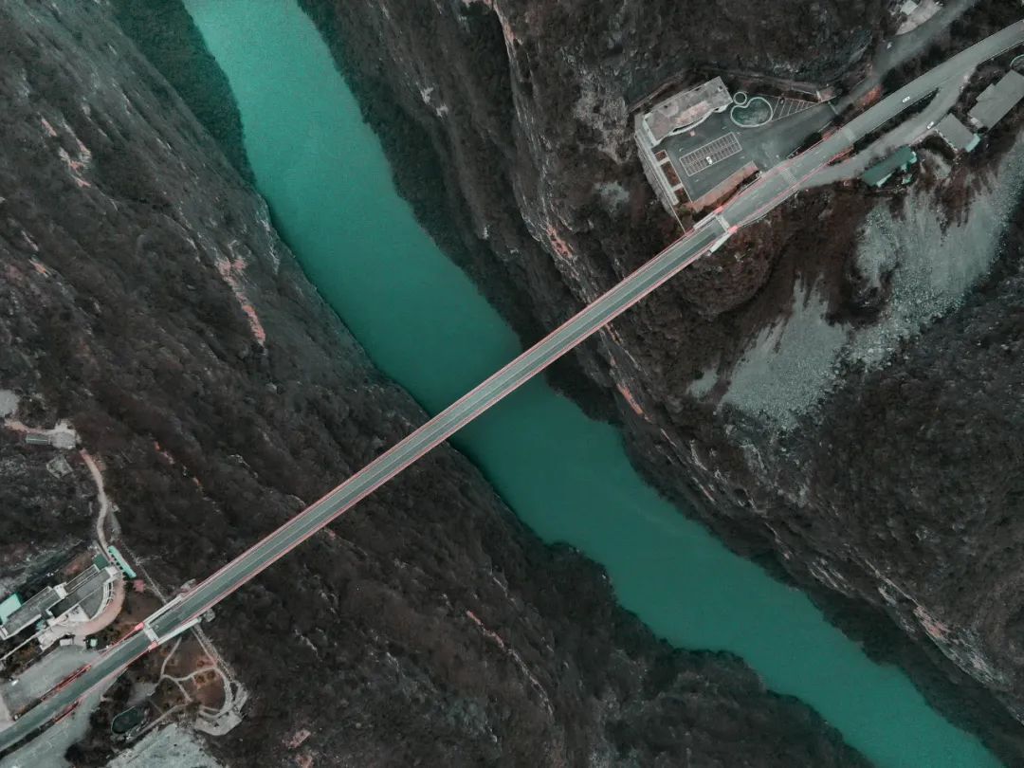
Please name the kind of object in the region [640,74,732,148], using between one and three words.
building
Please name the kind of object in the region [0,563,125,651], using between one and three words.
building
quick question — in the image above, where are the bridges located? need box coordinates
[50,151,832,714]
